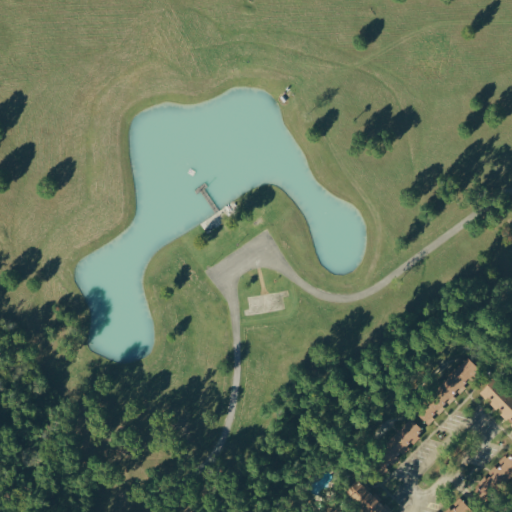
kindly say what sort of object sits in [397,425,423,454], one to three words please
building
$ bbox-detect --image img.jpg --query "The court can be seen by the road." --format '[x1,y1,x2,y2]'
[244,290,289,316]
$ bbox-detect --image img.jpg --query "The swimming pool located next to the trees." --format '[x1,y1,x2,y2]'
[312,470,334,501]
